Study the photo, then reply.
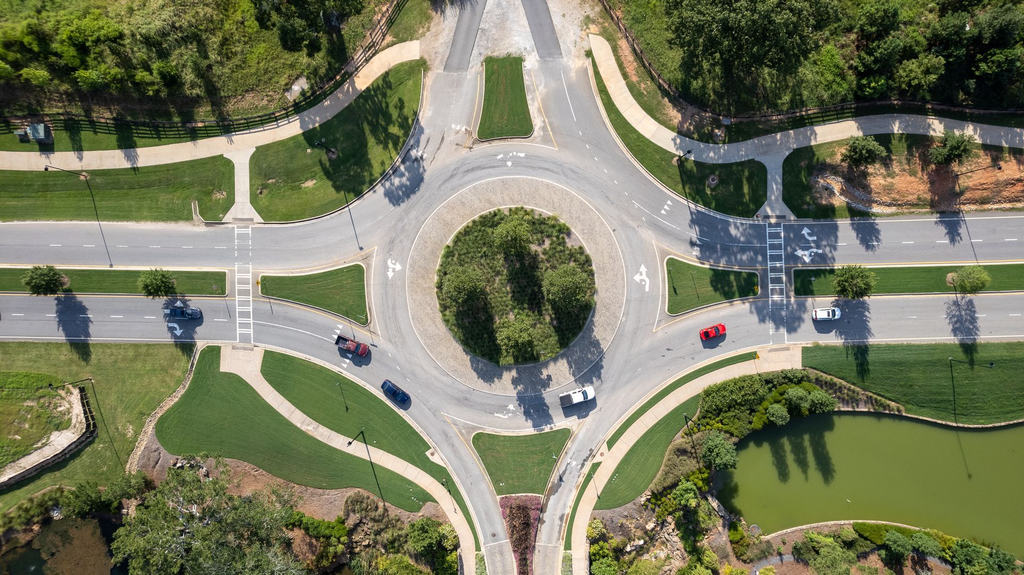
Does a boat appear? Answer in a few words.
No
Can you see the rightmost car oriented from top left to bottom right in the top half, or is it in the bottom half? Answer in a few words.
bottom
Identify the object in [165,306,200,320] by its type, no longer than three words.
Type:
vehicle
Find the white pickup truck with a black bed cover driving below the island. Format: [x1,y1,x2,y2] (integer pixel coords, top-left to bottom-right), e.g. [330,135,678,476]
[558,388,596,407]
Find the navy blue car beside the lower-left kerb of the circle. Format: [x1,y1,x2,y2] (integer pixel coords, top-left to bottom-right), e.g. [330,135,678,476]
[381,379,409,404]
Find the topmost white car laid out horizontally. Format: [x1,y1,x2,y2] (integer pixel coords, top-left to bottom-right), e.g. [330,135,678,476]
[811,307,841,321]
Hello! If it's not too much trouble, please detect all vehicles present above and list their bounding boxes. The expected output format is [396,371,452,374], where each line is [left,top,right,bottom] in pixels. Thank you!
[333,333,370,356]
[381,379,409,404]
[165,306,200,320]
[558,388,596,407]
[698,323,726,340]
[811,307,841,321]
